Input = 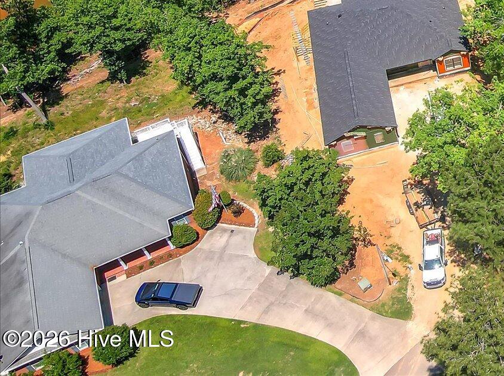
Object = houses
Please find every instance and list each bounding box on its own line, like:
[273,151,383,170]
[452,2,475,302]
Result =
[309,0,472,160]
[0,106,211,376]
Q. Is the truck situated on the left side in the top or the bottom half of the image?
bottom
